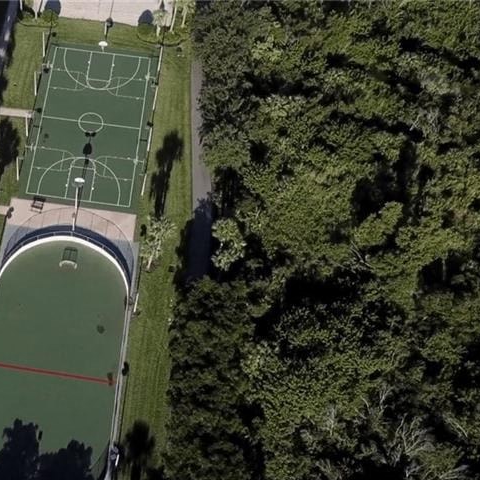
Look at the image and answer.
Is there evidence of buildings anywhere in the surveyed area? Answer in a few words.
No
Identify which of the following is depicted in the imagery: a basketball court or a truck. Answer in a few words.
basketball court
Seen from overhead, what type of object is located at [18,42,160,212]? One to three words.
basketball court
